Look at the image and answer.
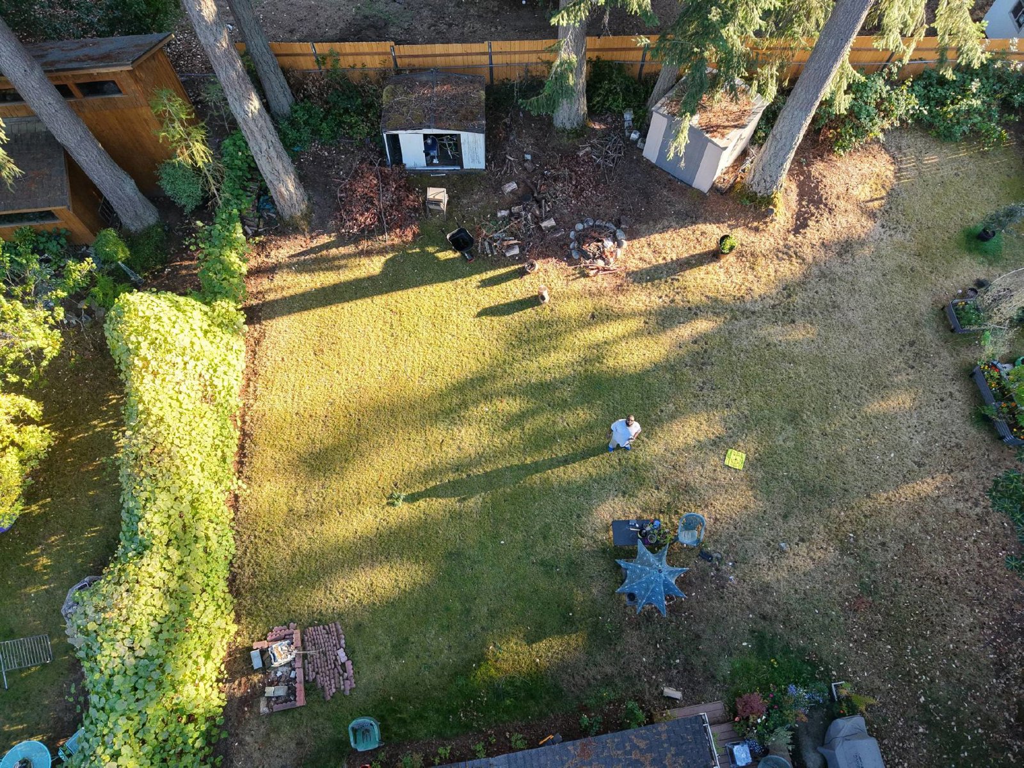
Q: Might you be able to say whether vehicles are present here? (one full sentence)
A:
No, there isn't any vehicle down there.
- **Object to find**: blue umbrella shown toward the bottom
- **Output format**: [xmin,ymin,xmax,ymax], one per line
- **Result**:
[615,539,689,616]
